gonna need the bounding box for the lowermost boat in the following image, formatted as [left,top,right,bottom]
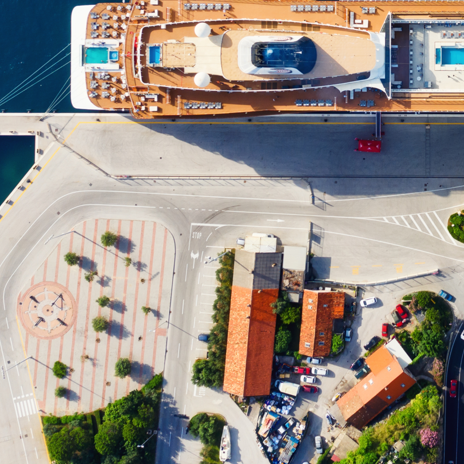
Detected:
[220,424,233,463]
